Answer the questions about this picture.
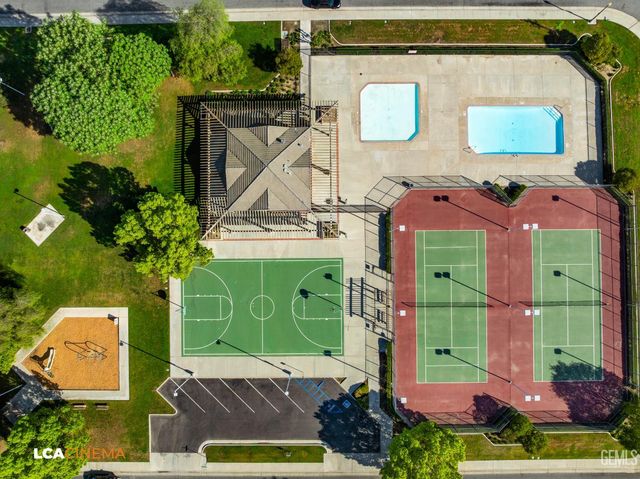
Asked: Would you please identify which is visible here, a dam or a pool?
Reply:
pool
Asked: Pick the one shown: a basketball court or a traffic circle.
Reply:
basketball court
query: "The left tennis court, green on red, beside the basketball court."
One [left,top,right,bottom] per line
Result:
[392,188,511,426]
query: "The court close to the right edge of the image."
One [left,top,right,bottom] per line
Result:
[509,187,625,425]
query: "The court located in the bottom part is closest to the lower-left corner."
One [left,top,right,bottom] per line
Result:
[182,258,343,356]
